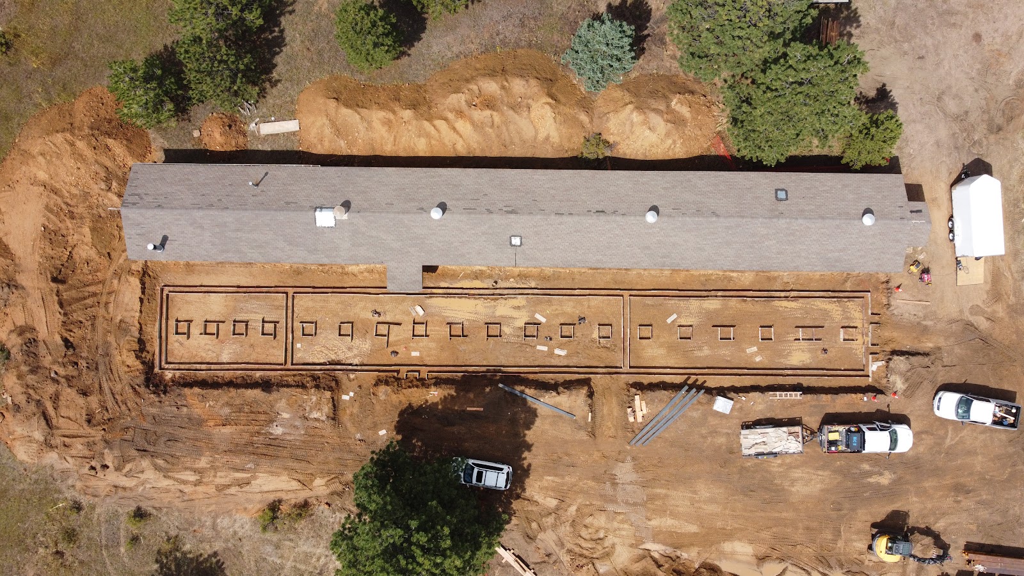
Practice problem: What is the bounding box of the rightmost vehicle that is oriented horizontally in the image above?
[928,391,1020,434]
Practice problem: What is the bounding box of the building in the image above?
[109,162,934,293]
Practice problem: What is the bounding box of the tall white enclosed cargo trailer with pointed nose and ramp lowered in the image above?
[945,166,1004,285]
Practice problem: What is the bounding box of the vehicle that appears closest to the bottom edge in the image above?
[864,528,953,565]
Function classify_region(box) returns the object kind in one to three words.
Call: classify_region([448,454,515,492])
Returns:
car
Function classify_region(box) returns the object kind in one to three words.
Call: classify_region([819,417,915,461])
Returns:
truck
